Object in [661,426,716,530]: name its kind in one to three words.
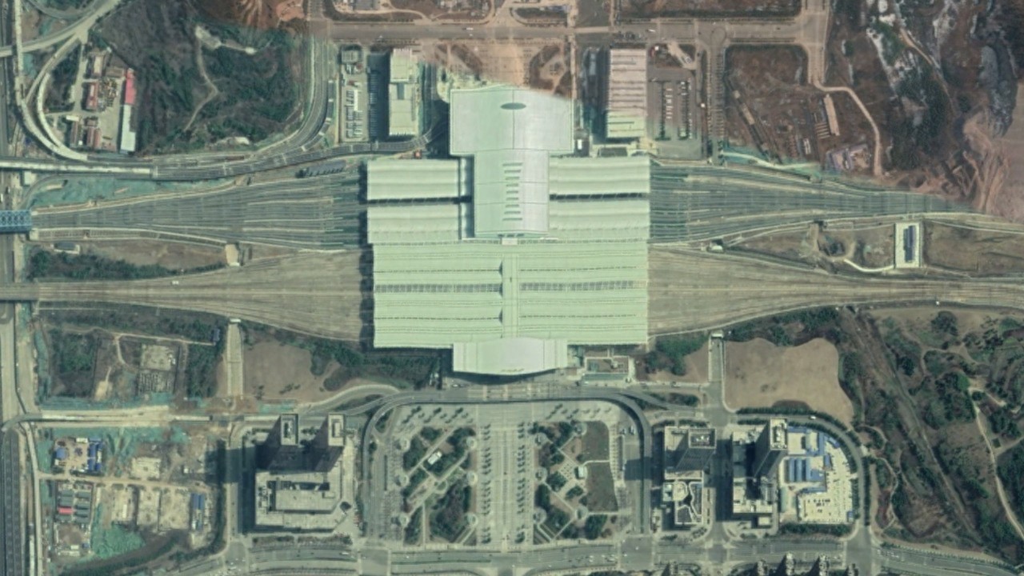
building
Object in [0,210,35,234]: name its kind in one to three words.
bridge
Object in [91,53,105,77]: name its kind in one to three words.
building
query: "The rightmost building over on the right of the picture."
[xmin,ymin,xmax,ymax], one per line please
[903,226,916,262]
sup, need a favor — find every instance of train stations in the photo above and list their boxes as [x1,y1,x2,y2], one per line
[367,85,650,383]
